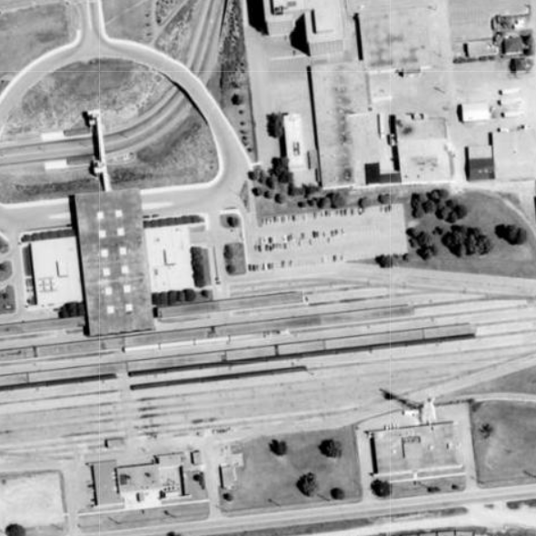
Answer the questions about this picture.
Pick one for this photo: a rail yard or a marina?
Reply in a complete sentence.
What you see here is a rail yard.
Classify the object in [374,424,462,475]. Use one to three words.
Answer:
building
